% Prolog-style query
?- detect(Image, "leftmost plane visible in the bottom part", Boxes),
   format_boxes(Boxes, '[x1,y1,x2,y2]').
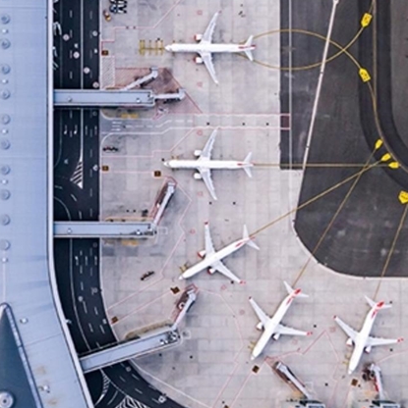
[180,220,259,283]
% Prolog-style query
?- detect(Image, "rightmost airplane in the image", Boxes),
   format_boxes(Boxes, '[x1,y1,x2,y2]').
[335,299,404,375]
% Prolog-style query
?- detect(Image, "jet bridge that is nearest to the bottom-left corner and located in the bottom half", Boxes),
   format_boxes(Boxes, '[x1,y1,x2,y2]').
[170,291,194,327]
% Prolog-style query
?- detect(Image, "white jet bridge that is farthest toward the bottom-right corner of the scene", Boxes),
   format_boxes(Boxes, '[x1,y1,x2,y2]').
[366,362,387,401]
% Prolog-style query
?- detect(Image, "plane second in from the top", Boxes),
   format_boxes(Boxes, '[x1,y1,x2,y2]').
[164,132,254,197]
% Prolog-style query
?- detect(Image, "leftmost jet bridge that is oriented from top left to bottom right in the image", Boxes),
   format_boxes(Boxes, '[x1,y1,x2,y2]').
[274,361,312,400]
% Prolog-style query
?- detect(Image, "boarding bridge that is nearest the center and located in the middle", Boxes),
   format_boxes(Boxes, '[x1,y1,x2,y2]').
[153,182,175,228]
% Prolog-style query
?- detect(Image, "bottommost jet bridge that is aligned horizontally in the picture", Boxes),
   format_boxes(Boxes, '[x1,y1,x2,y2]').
[155,88,187,103]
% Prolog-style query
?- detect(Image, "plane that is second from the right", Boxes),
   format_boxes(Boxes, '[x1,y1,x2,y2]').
[248,283,312,360]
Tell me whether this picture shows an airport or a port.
airport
